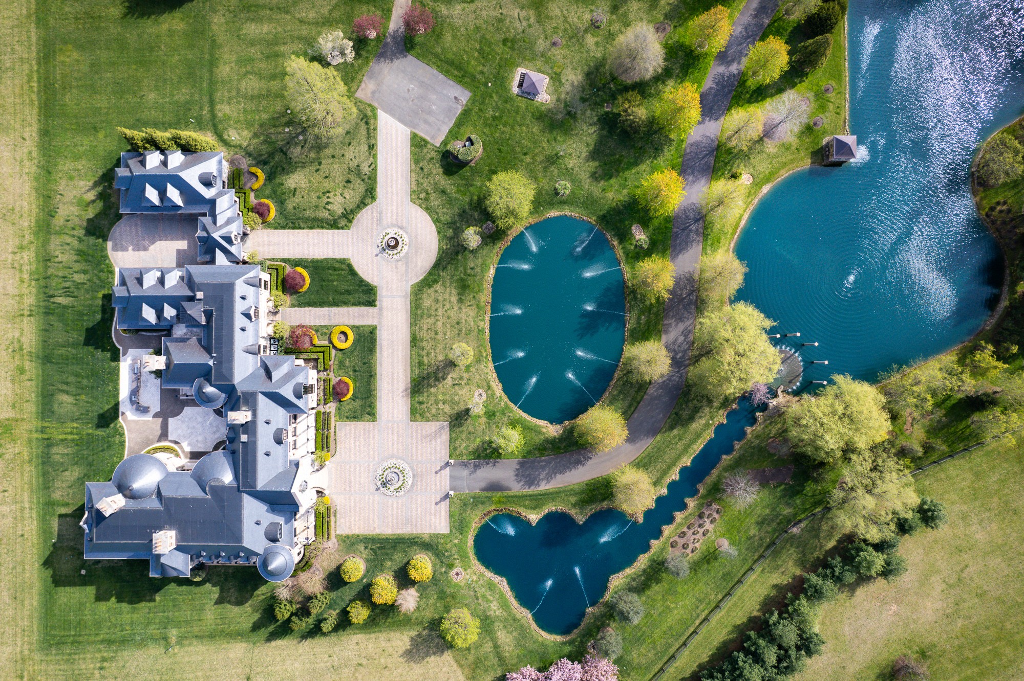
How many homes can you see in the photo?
2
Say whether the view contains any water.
Yes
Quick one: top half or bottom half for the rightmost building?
top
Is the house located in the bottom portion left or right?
left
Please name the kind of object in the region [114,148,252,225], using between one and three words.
house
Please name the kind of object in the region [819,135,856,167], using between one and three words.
building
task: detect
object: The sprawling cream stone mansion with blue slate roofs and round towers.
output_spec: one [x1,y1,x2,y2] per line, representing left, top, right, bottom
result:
[76,264,329,583]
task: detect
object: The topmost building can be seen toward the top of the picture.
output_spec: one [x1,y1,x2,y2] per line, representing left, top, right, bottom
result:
[512,69,547,97]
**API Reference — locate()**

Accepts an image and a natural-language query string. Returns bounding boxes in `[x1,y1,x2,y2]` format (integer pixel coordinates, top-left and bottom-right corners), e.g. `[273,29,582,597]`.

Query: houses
[76,264,329,583]
[114,148,252,225]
